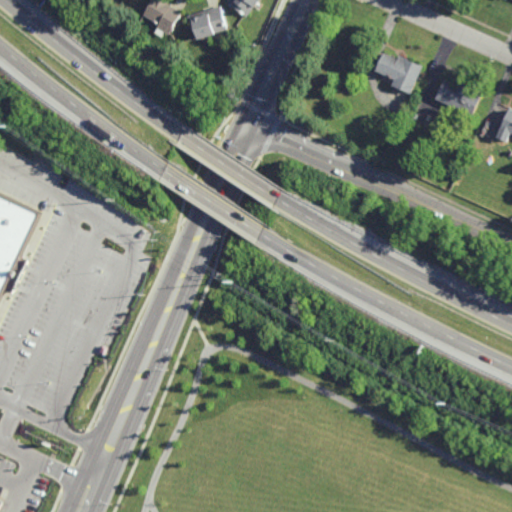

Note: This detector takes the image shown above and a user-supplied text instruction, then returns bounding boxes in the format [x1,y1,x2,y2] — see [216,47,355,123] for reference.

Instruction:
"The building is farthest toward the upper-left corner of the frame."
[142,0,188,38]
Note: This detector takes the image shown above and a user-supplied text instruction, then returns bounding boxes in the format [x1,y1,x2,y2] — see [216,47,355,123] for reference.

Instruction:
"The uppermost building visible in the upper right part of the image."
[373,54,422,94]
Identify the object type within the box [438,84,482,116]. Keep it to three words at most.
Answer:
house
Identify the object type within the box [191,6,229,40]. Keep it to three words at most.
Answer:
house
